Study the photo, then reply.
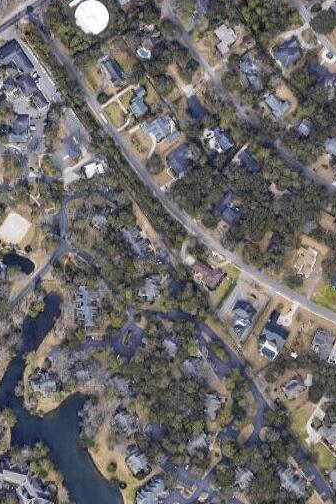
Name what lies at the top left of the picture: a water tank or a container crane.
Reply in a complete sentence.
The feature located at the top left of the picture is a water tank.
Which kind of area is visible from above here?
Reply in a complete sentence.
The picture captures a residential area.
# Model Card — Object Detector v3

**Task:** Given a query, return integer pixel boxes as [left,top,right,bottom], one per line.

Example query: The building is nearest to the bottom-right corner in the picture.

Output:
[277,467,308,498]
